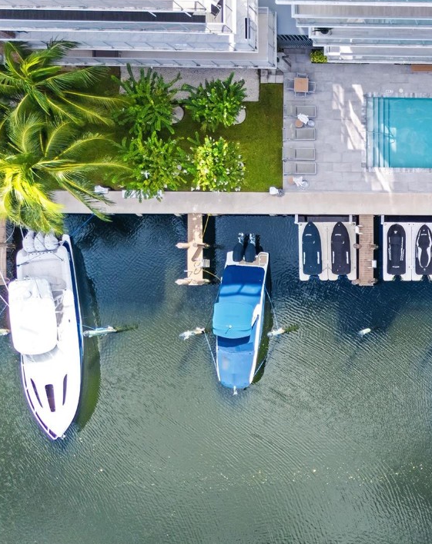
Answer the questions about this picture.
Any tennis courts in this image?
No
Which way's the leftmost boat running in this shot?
vertically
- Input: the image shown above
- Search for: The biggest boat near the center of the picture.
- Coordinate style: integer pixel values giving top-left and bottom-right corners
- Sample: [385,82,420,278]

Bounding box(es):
[212,226,273,396]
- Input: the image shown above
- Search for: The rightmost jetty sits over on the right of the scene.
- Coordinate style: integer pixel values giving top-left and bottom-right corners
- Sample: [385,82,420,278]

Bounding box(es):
[380,217,432,281]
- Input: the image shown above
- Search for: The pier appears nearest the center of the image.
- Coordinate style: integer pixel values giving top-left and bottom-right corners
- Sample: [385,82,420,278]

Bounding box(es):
[173,217,215,284]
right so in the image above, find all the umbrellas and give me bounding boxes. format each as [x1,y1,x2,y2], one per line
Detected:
[291,176,312,191]
[298,113,318,127]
